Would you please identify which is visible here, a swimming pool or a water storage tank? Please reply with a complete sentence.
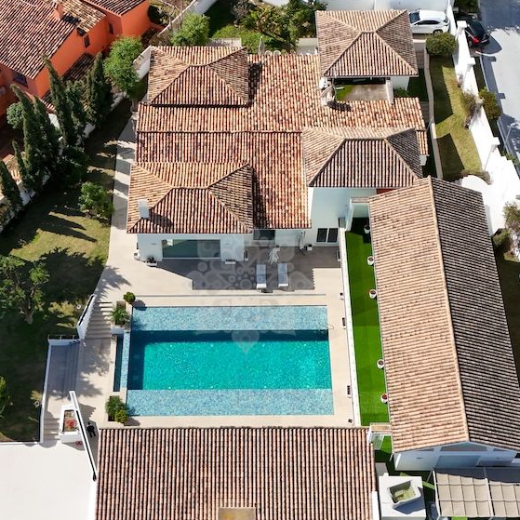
The image shows a swimming pool.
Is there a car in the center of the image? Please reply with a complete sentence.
No, looking in the center of the image, there is no car.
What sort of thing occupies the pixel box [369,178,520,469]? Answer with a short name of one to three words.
building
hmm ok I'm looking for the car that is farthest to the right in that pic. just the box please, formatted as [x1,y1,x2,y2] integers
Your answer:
[458,12,496,47]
